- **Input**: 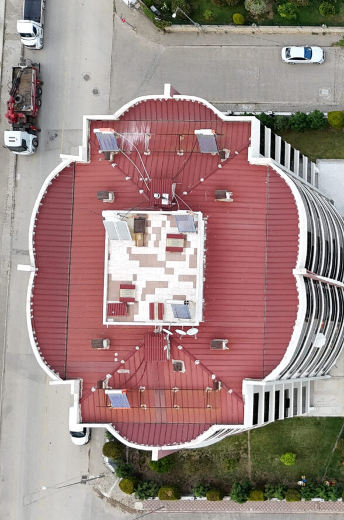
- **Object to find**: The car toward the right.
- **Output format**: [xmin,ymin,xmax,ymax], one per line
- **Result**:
[283,45,323,65]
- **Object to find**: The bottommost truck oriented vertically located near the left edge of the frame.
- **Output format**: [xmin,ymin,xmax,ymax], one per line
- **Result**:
[3,53,46,155]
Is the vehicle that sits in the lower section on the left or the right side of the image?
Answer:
left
